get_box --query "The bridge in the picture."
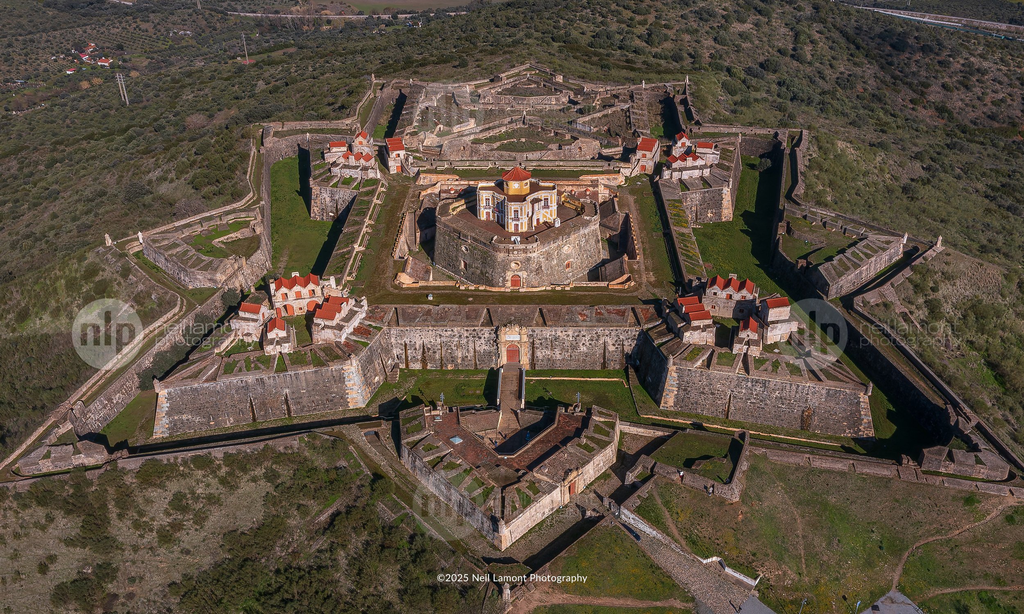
[492,367,522,446]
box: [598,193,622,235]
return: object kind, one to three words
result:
shed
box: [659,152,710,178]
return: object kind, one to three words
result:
house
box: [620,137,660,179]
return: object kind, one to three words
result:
house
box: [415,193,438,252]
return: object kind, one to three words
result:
shed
